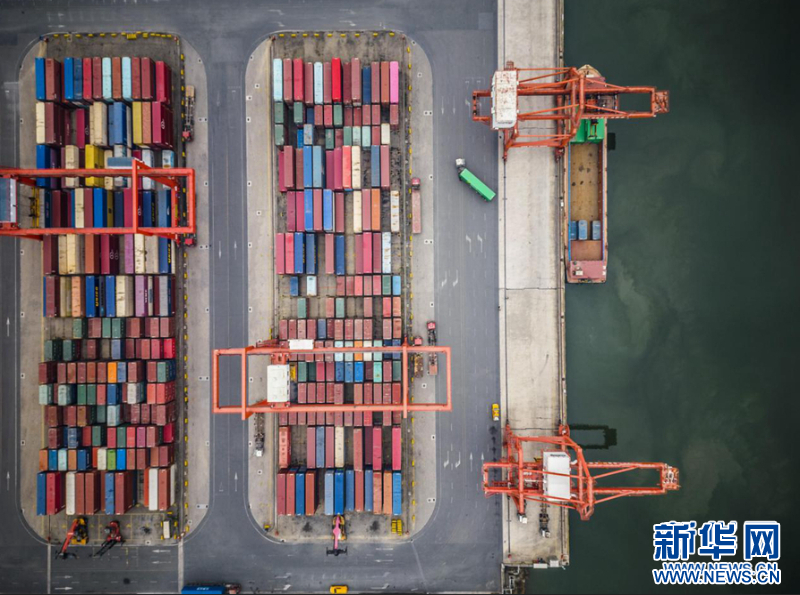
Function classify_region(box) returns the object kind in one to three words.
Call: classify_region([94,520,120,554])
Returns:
work vehicle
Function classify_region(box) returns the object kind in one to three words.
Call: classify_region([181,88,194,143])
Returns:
vehicle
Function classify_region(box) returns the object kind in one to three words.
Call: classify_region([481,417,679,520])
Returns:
container crane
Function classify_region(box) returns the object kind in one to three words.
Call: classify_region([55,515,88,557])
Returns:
work vehicle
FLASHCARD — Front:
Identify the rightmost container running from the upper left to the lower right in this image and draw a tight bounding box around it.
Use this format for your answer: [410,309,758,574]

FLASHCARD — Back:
[459,169,495,201]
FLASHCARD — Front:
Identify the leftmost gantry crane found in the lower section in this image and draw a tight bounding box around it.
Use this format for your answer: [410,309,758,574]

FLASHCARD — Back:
[212,329,452,422]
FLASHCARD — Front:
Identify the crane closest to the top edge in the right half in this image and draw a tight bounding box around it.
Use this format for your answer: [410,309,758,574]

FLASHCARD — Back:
[471,53,665,166]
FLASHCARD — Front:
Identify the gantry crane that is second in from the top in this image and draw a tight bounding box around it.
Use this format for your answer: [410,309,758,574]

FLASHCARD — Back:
[0,157,196,254]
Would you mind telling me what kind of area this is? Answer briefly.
port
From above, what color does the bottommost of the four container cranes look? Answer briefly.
red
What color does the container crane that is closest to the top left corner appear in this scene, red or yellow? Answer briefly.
red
